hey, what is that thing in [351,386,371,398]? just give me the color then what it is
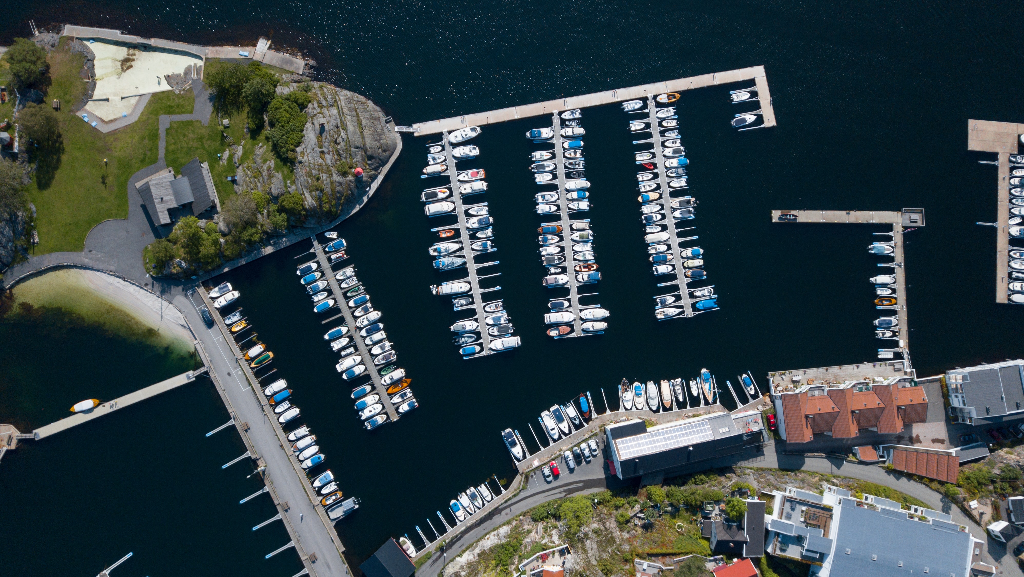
blue boat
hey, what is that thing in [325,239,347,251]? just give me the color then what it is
blue boat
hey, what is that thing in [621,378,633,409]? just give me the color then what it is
white boat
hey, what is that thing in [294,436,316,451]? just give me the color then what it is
white boat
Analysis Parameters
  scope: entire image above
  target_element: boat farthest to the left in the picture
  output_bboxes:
[70,399,100,412]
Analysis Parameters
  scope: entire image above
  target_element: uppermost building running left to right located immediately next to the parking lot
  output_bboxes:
[603,410,765,478]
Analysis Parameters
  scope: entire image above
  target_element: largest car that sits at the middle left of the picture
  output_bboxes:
[201,308,213,324]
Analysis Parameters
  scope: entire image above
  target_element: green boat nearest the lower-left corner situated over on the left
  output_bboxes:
[251,353,274,367]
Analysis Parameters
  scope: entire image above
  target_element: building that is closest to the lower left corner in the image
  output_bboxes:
[359,537,416,577]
